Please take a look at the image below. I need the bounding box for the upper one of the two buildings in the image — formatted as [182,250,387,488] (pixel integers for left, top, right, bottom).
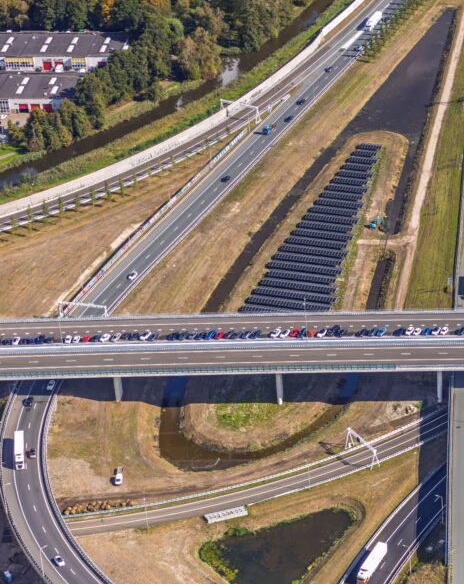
[0,31,131,71]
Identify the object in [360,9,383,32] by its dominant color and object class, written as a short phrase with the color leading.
white truck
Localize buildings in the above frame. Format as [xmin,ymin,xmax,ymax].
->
[0,31,131,71]
[0,72,85,114]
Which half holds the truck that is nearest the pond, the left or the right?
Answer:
right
